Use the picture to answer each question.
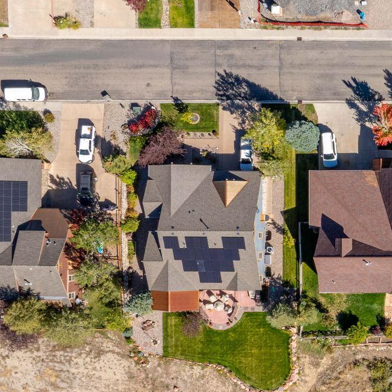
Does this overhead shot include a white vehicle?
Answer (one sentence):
Yes, there's a white vehicle down there.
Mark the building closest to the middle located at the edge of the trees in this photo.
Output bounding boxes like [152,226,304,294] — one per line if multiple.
[139,165,266,314]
